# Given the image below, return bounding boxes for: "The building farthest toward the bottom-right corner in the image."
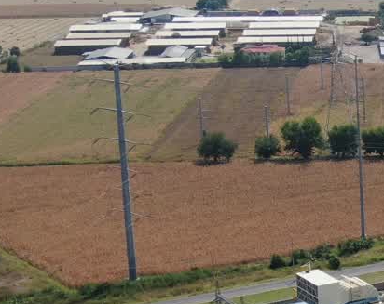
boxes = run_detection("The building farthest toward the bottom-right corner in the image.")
[296,268,380,304]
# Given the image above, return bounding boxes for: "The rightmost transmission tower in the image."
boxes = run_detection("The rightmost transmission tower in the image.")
[350,97,364,134]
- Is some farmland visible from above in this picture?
Yes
